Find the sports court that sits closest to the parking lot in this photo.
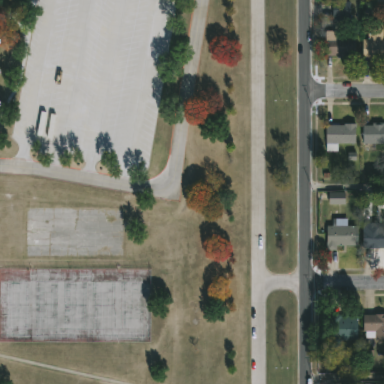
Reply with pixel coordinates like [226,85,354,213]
[27,208,123,256]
